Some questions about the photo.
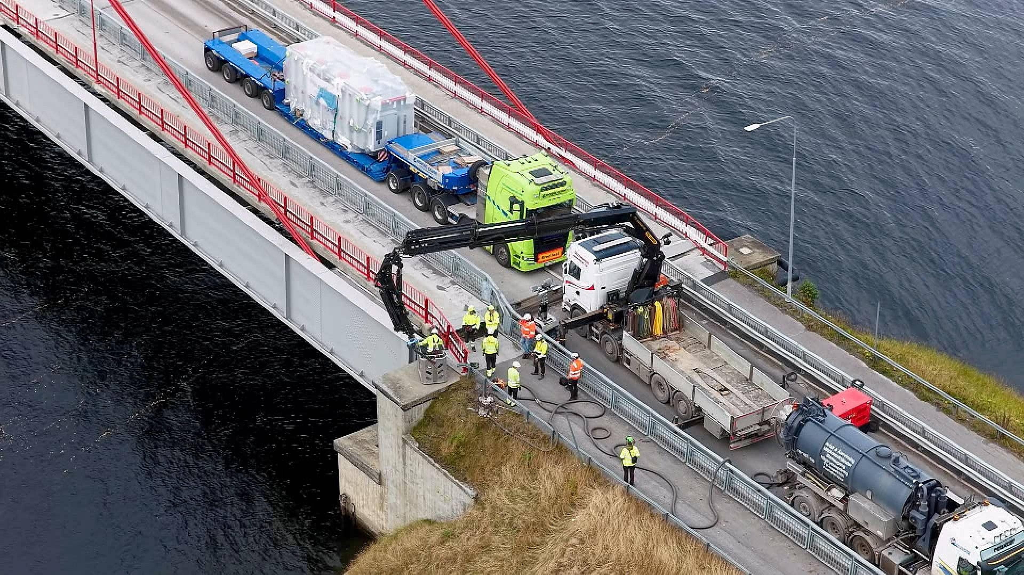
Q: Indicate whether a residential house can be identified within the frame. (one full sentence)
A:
No, the photo shows no residential house.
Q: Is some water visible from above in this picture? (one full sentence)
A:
Yes, there's water in this view.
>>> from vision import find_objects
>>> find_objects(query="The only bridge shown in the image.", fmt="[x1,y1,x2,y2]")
[0,0,706,398]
